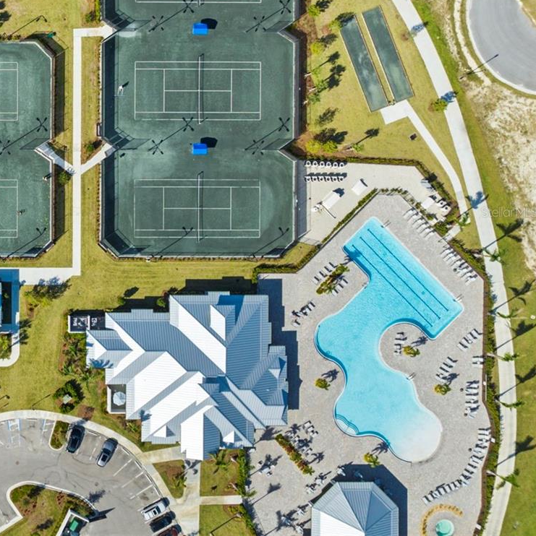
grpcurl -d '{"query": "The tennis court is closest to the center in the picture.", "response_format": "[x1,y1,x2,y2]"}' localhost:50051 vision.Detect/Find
[105,148,294,256]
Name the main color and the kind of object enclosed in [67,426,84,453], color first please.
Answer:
black car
